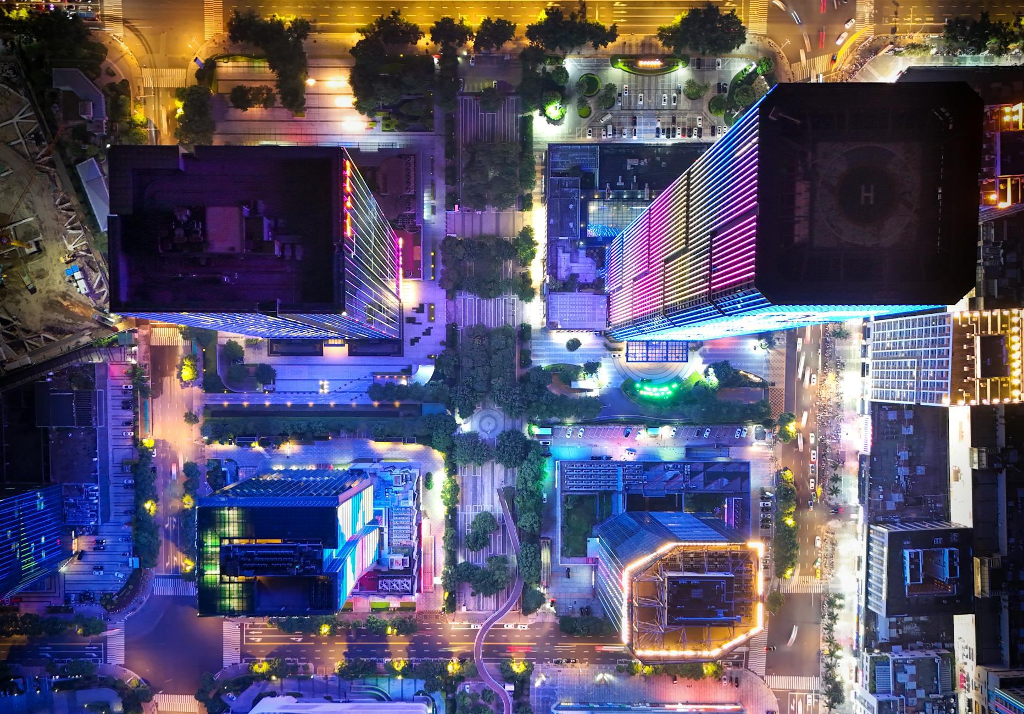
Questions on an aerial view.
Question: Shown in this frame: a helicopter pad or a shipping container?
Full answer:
I can see a helicopter pad in this picture.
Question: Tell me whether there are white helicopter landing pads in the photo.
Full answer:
No, the photo shows no white helicopter landing pad.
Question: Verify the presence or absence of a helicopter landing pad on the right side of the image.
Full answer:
Yes, a helicopter landing pad appears on the right side of the image.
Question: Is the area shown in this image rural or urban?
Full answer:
This place is urban.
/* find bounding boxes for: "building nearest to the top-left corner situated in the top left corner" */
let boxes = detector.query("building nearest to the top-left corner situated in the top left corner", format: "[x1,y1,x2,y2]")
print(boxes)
[52,67,115,139]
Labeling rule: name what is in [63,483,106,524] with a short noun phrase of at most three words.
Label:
building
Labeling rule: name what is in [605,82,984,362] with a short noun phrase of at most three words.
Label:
building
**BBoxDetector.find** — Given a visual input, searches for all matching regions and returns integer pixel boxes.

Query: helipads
[814,144,917,246]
